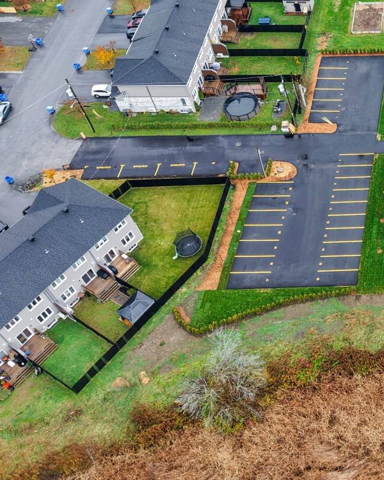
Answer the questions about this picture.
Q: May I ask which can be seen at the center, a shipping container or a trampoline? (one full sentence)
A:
Visible at the center is a trampoline.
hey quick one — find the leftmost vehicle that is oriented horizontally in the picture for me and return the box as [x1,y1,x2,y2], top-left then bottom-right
[85,82,117,96]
